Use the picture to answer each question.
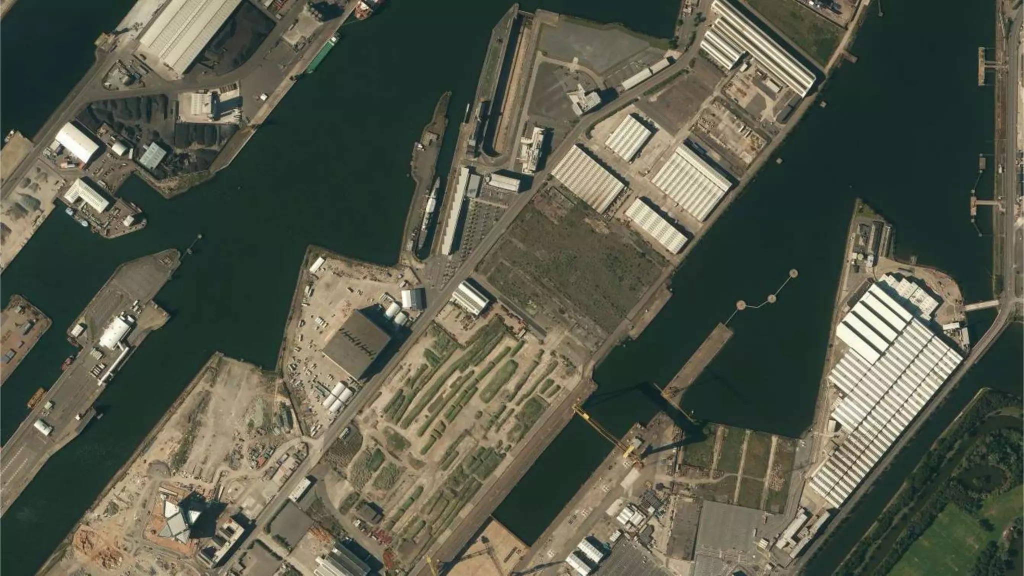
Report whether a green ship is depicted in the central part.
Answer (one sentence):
No, there is no green ship in the central part.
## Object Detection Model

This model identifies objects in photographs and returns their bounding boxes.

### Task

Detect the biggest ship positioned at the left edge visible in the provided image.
[27,388,46,408]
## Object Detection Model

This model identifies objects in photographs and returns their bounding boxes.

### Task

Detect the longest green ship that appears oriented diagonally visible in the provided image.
[306,33,339,74]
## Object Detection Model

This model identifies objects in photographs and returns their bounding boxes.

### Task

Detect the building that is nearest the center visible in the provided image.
[453,280,489,316]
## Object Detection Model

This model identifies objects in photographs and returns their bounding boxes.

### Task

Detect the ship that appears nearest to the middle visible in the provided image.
[417,177,439,248]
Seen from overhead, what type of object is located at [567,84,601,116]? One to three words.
building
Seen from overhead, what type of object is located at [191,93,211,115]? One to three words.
shed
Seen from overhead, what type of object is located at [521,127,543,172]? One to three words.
building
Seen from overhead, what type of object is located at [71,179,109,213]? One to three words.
shed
